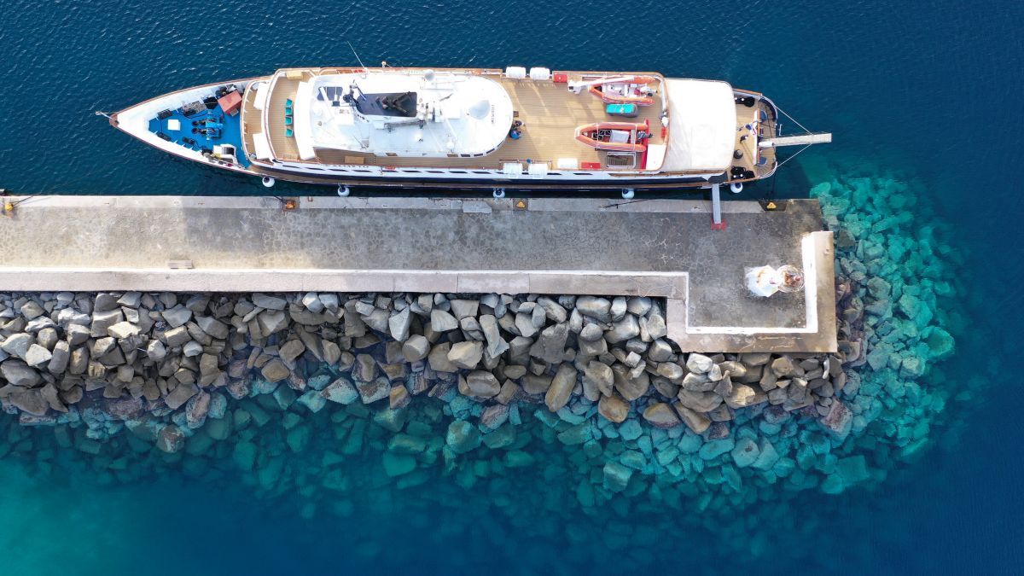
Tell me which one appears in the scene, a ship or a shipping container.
ship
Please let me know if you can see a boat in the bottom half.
No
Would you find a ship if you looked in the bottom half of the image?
No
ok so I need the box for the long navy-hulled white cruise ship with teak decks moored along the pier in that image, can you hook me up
[95,48,832,191]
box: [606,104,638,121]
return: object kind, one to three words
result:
boat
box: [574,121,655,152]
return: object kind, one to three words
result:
boat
